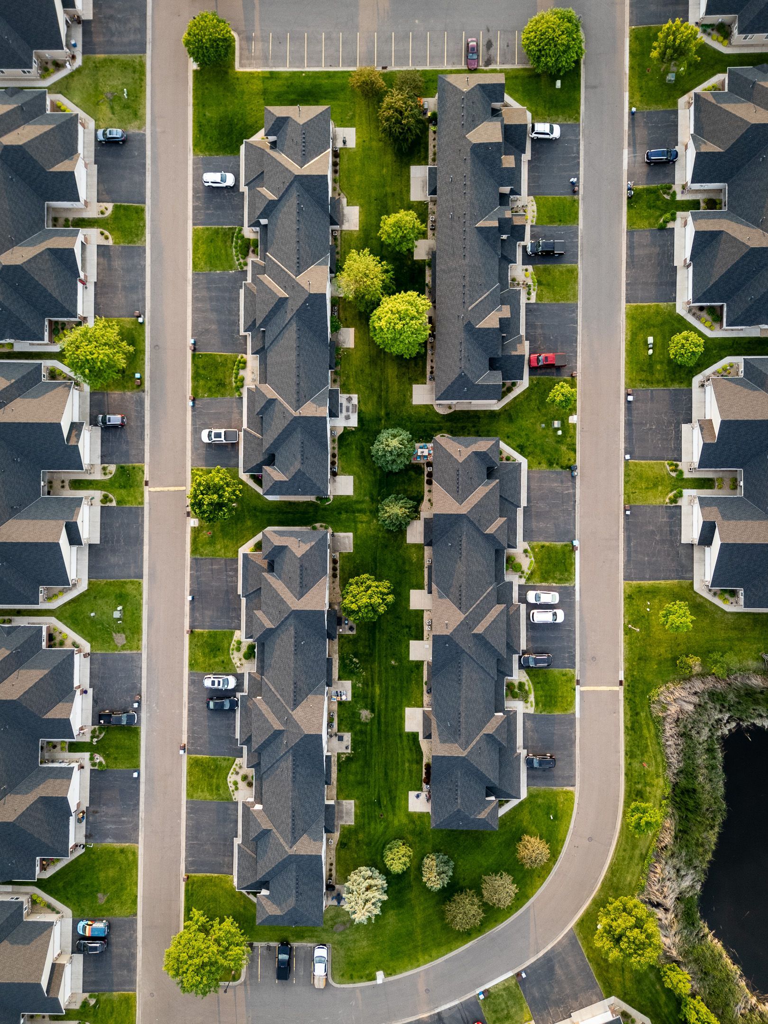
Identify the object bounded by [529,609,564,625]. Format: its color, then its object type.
white car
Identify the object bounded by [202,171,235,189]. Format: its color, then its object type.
white car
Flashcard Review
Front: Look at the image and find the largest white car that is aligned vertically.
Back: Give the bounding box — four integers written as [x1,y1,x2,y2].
[312,943,328,979]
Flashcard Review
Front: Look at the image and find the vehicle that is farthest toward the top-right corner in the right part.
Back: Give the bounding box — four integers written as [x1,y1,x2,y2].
[643,147,678,166]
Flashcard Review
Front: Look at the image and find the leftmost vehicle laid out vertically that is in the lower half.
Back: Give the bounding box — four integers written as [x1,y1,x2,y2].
[276,939,292,982]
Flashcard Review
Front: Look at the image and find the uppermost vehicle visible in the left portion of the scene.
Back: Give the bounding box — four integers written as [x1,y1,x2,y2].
[97,127,128,145]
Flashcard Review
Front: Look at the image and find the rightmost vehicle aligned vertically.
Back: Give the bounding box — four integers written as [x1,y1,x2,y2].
[466,37,480,72]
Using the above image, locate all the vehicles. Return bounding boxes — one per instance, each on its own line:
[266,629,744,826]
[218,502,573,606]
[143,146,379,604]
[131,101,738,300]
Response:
[525,753,556,770]
[529,122,560,140]
[643,147,678,166]
[276,939,292,982]
[529,609,564,625]
[520,653,553,669]
[206,697,238,712]
[96,413,128,428]
[526,239,566,257]
[202,171,235,189]
[98,710,139,727]
[202,428,240,444]
[312,943,328,979]
[97,127,128,145]
[466,37,480,72]
[528,352,568,368]
[77,919,111,939]
[203,675,237,691]
[77,938,109,956]
[526,590,559,605]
